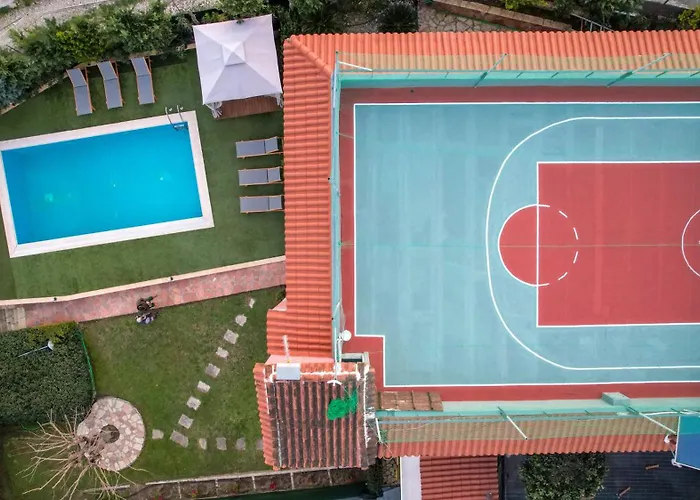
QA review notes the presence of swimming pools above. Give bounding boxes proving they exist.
[0,103,213,257]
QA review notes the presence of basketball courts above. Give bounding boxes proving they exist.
[340,88,700,401]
